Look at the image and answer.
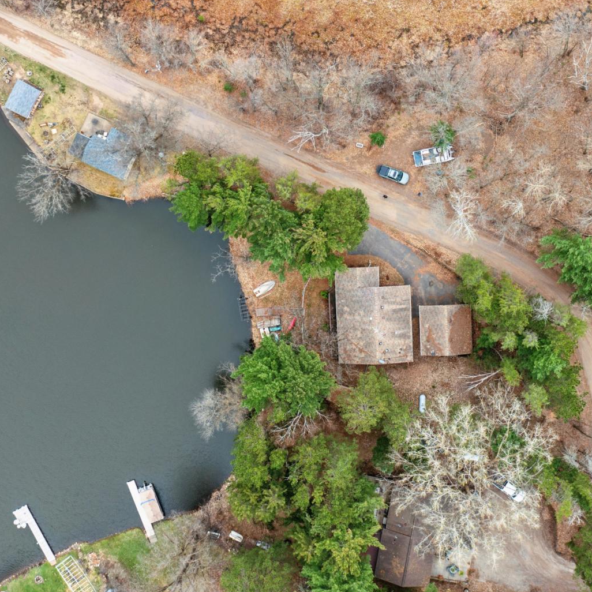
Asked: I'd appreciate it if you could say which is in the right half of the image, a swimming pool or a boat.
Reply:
boat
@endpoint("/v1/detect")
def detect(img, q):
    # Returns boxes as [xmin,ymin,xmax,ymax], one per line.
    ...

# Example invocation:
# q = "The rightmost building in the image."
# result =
[419,304,472,356]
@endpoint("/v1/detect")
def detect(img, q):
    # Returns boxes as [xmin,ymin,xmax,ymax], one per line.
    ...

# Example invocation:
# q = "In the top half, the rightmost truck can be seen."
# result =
[374,163,411,186]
